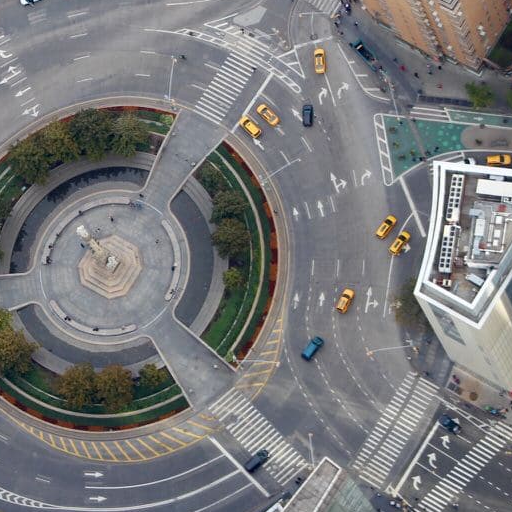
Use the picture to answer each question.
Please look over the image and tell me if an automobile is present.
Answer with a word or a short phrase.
Yes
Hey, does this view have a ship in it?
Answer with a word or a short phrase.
No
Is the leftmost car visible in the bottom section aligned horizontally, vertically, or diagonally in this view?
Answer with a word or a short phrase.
diagonally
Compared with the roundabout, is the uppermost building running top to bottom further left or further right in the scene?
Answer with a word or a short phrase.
to the right of it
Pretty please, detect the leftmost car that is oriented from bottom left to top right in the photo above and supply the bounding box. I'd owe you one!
[242,446,270,473]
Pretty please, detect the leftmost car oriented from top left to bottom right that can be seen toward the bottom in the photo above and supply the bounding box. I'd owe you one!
[437,413,462,435]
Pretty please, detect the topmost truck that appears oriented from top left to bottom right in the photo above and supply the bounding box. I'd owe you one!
[348,37,381,68]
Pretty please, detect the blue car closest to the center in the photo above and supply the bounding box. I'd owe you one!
[298,334,325,361]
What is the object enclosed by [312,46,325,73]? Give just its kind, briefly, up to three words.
vehicle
